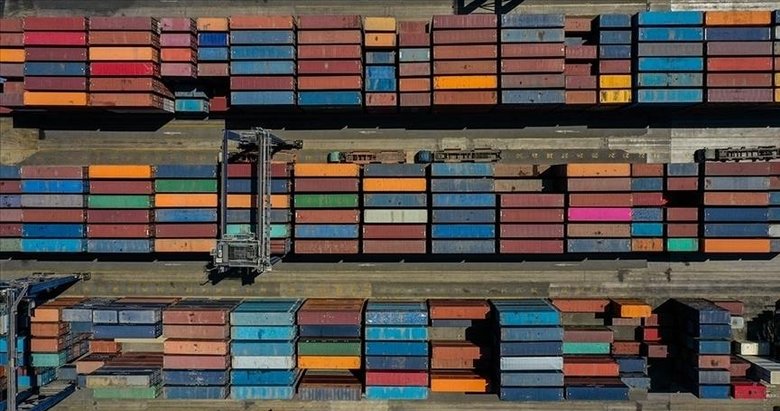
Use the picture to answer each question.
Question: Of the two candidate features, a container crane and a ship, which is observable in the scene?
container crane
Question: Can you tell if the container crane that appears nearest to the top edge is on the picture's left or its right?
left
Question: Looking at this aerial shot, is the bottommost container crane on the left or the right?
left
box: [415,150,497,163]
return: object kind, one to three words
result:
vehicle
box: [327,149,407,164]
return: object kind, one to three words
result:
vehicle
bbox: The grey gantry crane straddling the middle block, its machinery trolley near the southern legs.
[211,128,304,273]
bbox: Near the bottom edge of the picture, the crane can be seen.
[0,275,88,411]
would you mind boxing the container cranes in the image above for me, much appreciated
[0,275,88,411]
[211,128,304,273]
